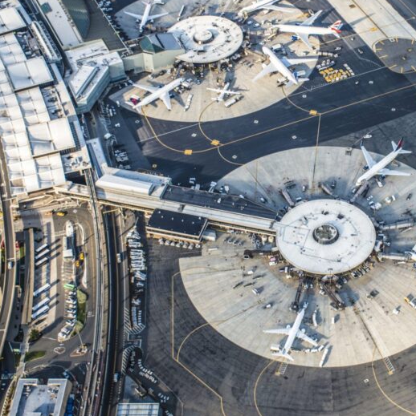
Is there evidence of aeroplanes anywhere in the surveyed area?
Yes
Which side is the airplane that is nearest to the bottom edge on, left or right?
right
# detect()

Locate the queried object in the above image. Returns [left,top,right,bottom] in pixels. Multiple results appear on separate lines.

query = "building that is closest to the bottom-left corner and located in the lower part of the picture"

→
[12,380,70,416]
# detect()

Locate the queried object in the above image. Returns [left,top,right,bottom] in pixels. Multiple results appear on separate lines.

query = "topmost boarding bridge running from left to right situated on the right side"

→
[243,26,274,38]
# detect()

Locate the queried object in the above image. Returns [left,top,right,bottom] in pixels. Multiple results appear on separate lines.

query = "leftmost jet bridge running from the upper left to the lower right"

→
[278,185,298,209]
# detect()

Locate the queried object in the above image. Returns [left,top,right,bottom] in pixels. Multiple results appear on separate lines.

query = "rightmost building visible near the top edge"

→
[169,17,245,69]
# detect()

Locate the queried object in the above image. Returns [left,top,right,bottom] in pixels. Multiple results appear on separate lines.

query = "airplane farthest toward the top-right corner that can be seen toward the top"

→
[274,11,341,51]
